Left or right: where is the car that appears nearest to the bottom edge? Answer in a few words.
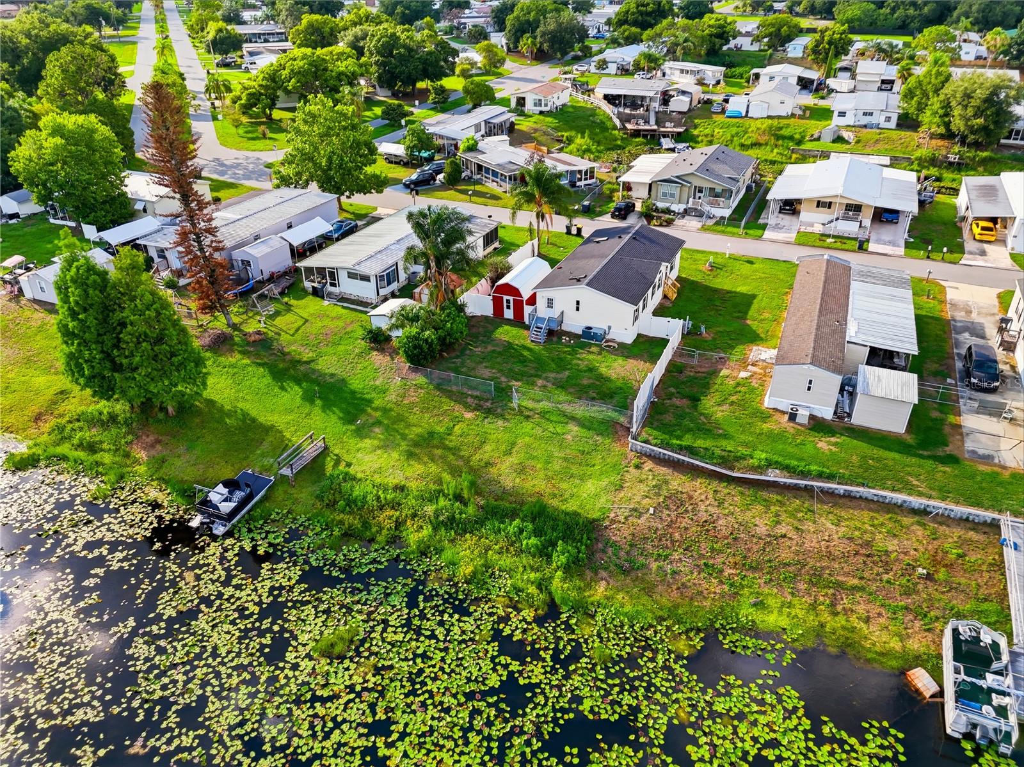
right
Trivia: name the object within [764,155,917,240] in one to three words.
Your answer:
house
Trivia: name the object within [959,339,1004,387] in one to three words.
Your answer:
car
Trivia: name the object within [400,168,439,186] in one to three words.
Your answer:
car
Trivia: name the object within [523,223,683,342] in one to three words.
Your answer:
house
